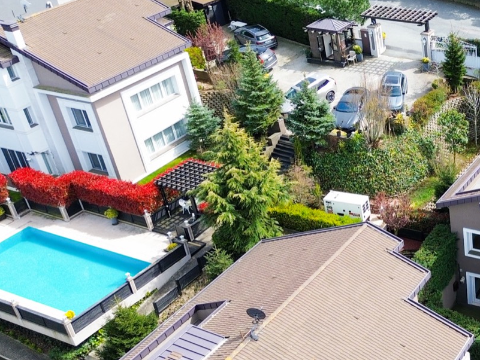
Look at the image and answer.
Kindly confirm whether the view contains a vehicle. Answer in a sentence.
Yes, a vehicle can be made out from above.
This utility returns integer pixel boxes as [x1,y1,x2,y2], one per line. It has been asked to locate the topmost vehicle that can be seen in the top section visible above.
[232,26,277,52]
